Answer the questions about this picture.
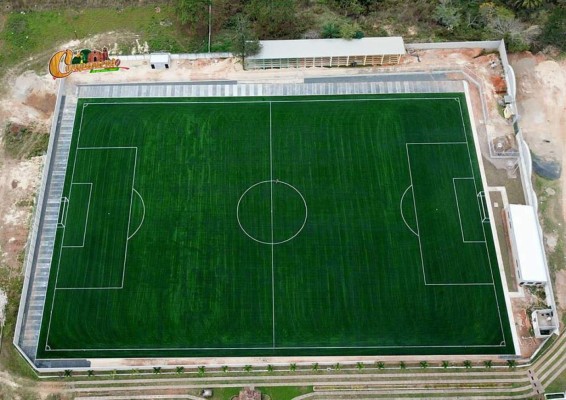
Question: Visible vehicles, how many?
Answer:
none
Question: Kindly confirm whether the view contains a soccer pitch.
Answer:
Yes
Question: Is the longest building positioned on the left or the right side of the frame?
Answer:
right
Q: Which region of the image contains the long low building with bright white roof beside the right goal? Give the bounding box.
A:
[507,201,550,286]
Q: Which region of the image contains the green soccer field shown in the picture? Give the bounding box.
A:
[36,92,515,359]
